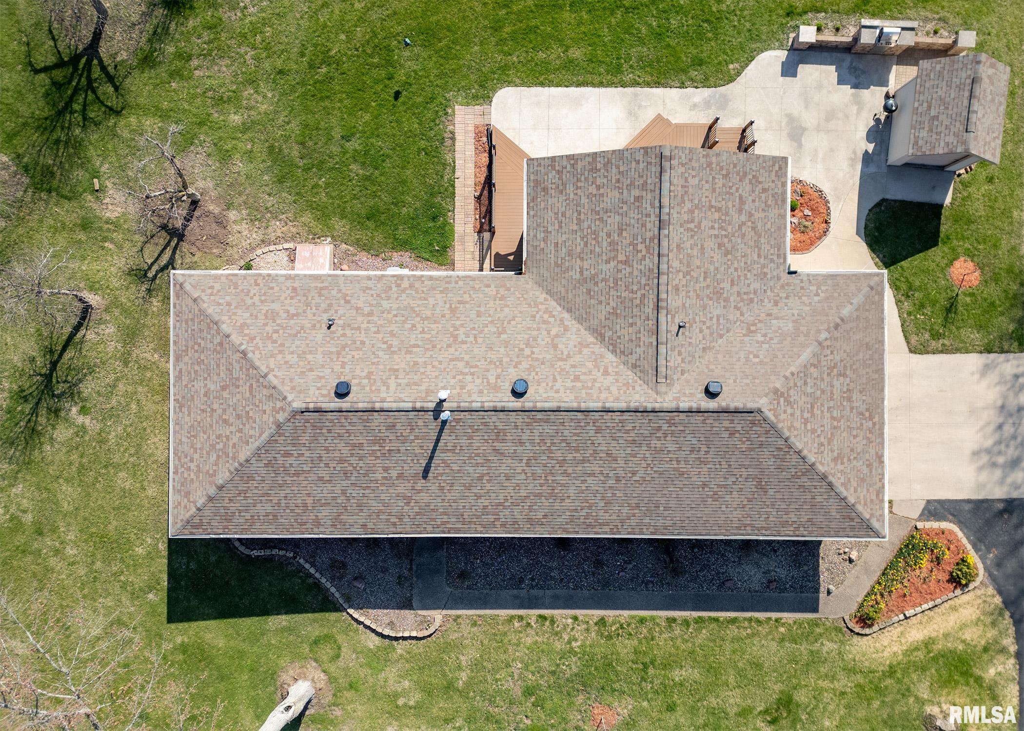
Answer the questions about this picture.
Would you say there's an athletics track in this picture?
No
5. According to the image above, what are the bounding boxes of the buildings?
[887,54,1008,173]
[170,146,887,539]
